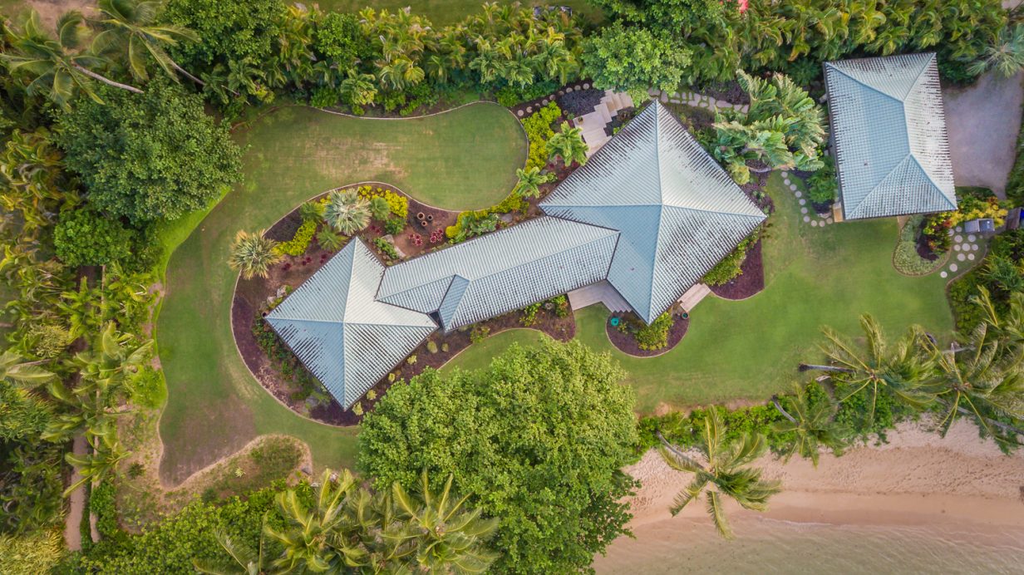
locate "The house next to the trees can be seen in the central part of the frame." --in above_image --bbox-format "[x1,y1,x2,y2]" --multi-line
[264,103,769,411]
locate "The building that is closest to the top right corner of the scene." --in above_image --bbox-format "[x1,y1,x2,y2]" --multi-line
[818,50,959,223]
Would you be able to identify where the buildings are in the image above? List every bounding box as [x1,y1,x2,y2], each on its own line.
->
[818,50,959,223]
[264,103,769,411]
